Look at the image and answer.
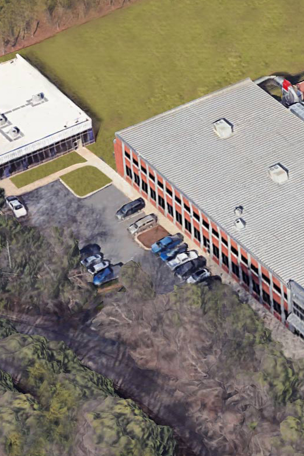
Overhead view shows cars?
Yes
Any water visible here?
No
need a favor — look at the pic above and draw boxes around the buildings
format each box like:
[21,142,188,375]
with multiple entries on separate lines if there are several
[113,78,304,343]
[0,56,93,179]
